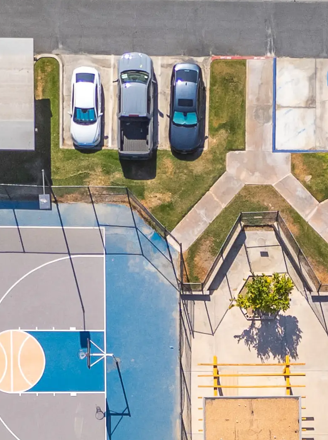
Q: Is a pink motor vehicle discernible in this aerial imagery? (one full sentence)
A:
No, this view has no pink motor vehicle in it.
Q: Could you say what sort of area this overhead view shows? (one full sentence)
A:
What you see here is a sports ground.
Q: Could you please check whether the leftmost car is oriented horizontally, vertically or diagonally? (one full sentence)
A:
What the image shows is the leftmost car lying vertically.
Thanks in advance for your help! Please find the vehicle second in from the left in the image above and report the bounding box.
[114,53,157,163]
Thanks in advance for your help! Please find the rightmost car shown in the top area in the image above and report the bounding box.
[166,64,207,154]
